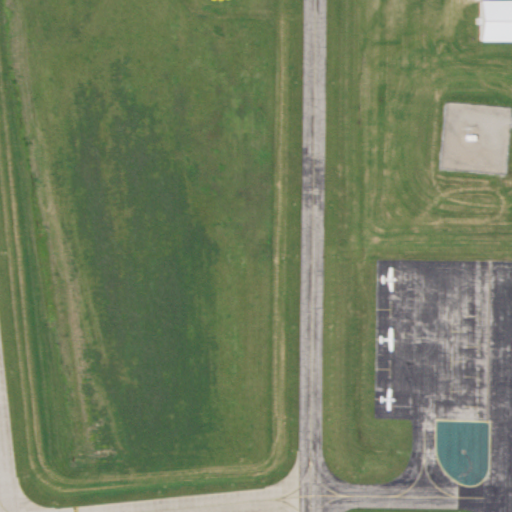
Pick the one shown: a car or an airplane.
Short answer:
airplane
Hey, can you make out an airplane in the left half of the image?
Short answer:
No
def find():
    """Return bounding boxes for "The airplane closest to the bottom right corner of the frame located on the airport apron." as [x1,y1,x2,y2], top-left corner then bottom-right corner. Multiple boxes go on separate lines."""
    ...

[380,388,396,412]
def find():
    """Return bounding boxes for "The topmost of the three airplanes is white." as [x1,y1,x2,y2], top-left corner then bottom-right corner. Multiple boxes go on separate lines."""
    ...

[381,266,398,293]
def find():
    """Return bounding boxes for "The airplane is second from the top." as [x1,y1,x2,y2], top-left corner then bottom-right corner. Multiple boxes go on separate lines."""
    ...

[379,327,398,354]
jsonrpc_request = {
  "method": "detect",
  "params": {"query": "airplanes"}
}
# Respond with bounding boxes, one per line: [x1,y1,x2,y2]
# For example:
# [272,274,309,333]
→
[380,388,396,412]
[379,327,398,354]
[381,266,398,293]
